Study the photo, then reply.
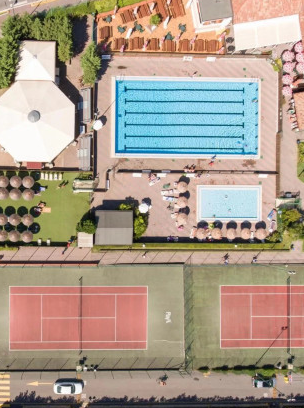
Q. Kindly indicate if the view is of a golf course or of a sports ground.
sports ground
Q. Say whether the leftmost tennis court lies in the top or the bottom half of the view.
bottom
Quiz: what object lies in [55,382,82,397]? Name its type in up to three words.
car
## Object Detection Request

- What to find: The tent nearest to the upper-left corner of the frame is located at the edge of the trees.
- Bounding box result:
[15,40,57,83]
